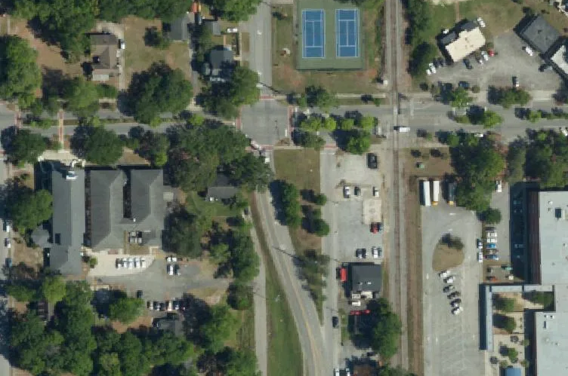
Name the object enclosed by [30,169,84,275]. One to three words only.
building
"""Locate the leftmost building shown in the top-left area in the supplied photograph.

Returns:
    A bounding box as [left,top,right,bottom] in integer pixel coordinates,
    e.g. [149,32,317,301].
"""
[89,33,118,80]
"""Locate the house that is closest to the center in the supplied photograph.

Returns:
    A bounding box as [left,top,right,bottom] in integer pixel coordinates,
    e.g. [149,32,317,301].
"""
[207,185,241,199]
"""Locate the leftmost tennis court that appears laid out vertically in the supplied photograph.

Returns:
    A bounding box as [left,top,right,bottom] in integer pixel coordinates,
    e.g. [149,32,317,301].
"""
[302,8,326,57]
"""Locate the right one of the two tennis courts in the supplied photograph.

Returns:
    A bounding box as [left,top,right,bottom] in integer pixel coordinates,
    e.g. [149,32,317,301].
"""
[337,8,359,57]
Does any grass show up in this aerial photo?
Yes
